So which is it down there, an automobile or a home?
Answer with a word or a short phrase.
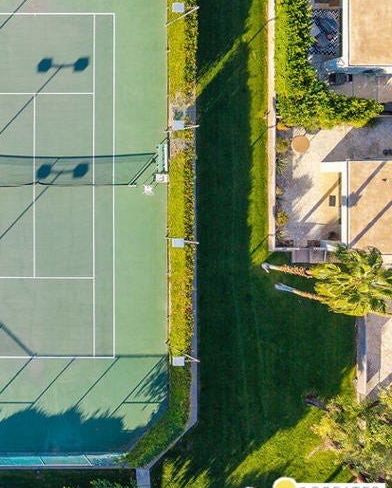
home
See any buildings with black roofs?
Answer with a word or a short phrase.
No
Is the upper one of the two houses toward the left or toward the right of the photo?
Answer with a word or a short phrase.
right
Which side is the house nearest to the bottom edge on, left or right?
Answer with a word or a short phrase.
right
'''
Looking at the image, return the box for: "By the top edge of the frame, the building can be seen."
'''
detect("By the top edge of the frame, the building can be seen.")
[321,0,392,70]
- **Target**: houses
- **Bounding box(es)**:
[321,0,392,70]
[316,161,392,256]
